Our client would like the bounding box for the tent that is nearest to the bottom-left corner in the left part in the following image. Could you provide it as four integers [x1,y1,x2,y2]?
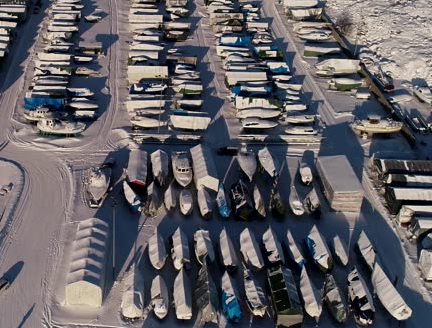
[66,213,109,308]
